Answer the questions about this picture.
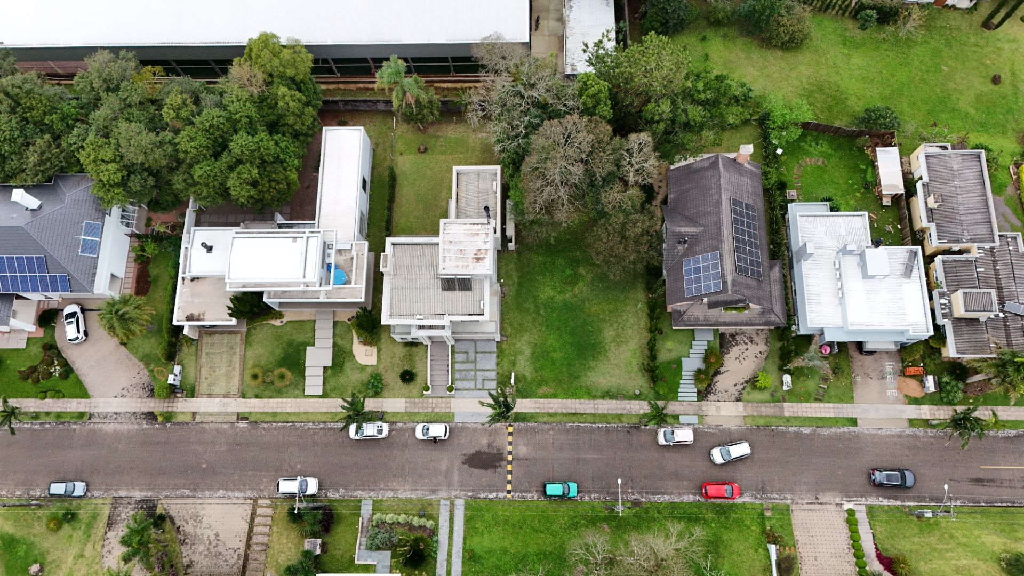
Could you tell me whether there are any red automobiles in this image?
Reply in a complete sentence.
Yes, looking at the shot, I can spot a red automobile.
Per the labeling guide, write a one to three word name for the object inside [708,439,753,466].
car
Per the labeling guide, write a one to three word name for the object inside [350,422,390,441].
car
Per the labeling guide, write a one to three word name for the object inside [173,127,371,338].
house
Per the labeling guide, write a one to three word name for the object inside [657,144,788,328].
house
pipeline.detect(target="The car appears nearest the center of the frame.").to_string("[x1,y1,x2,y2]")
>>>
[416,422,450,441]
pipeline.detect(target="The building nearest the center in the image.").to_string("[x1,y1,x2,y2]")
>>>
[379,166,503,345]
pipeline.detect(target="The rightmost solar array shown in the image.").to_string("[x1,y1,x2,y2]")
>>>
[730,197,762,280]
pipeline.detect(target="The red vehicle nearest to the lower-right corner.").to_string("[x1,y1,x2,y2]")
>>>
[700,481,741,501]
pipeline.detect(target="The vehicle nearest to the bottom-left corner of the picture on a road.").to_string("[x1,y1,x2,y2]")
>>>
[49,480,89,499]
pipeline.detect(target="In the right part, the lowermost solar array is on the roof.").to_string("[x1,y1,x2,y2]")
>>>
[682,251,723,297]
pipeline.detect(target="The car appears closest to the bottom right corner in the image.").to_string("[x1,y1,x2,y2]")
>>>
[866,468,914,489]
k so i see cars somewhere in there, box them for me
[416,422,450,441]
[63,306,86,342]
[708,439,753,466]
[860,339,879,360]
[276,476,319,497]
[350,422,390,441]
[49,480,89,499]
[543,481,578,500]
[700,481,741,501]
[866,468,914,489]
[656,427,693,446]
